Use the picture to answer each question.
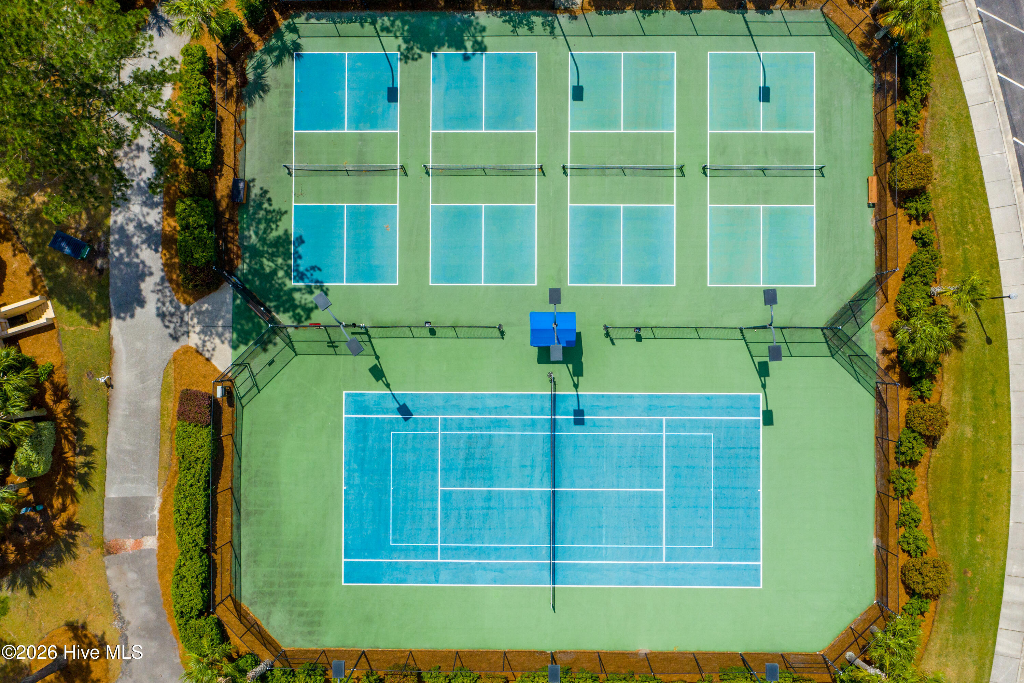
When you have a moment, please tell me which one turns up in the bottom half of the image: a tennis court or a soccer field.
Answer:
tennis court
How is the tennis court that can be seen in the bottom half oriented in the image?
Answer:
from left to right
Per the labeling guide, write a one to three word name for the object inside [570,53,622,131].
sports court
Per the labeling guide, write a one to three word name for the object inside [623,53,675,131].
sports court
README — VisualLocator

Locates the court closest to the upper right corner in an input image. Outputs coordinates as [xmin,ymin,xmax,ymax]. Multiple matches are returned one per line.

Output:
[762,53,815,131]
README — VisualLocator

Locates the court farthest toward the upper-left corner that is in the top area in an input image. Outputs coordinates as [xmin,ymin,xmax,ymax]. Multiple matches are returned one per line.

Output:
[295,53,346,131]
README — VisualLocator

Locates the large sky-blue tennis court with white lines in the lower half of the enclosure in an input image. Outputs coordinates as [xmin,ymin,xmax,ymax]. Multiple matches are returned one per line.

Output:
[343,392,761,588]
